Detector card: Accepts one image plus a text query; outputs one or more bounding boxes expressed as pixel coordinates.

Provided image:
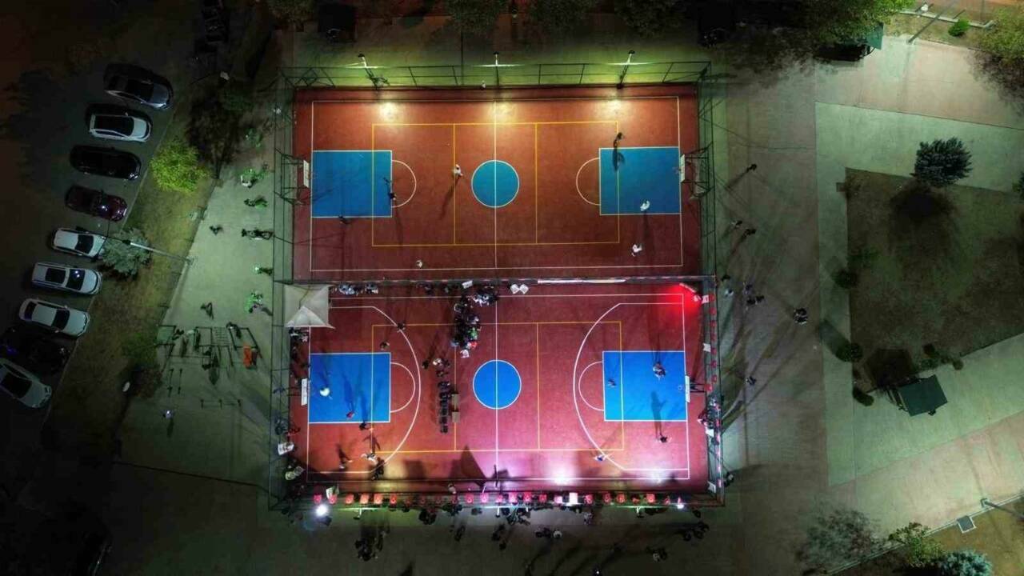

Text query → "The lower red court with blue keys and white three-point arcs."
[290,282,707,495]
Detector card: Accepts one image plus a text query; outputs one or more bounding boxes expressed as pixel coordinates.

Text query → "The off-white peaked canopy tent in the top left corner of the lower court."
[288,286,337,327]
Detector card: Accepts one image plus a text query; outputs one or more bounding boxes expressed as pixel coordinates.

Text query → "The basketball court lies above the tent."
[293,83,701,282]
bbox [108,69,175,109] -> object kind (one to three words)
car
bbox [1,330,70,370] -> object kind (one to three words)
car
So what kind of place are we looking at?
sports ground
